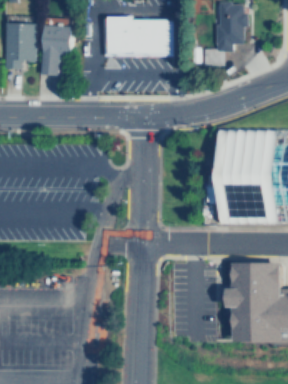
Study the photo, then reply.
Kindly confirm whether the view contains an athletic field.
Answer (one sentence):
No, I can see no athletic field in this picture.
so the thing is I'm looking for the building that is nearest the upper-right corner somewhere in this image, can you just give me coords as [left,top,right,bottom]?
[218,1,251,52]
